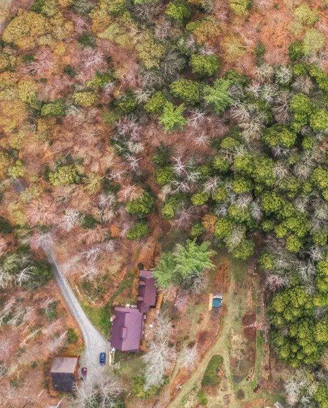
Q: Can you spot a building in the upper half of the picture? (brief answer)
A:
No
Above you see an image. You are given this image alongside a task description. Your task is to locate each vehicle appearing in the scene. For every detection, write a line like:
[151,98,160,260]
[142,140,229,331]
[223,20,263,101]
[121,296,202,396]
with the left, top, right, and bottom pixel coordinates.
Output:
[99,351,106,364]
[80,368,87,377]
